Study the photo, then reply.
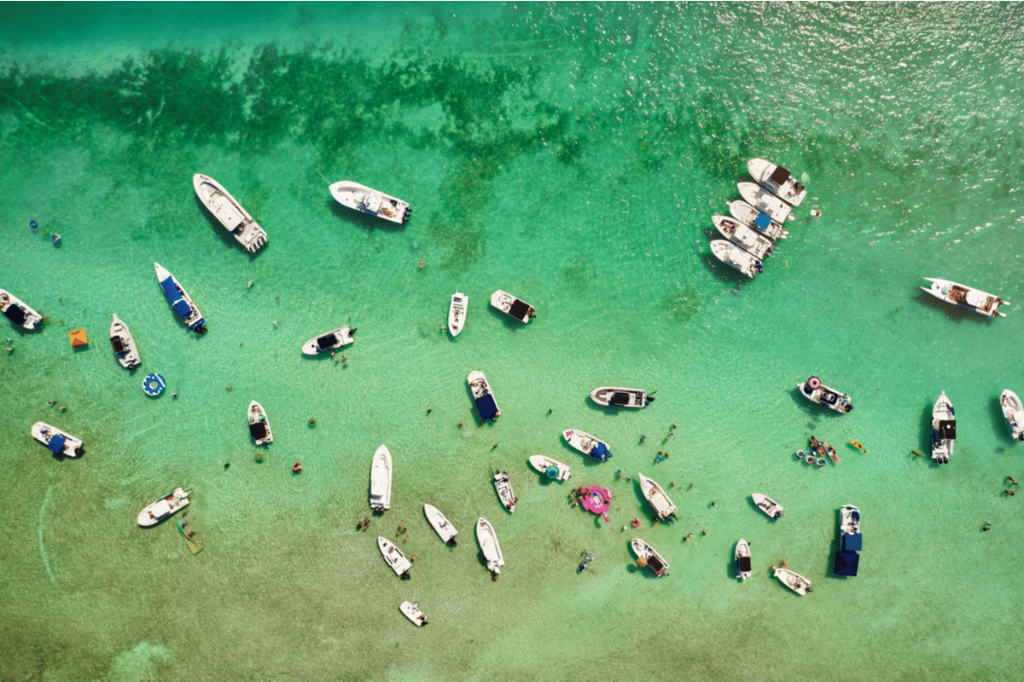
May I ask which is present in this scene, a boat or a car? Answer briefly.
boat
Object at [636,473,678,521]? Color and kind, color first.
white boat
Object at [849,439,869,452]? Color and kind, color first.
orange boat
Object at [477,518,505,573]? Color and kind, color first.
white boat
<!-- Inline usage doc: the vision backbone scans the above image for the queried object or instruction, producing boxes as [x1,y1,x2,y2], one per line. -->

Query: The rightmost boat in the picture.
[996,389,1024,441]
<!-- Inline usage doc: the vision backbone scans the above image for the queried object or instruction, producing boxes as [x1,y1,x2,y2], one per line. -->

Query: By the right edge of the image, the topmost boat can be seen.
[916,277,1010,318]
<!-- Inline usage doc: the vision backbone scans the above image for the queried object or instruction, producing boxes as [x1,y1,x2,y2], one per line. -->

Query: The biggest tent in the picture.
[827,547,859,576]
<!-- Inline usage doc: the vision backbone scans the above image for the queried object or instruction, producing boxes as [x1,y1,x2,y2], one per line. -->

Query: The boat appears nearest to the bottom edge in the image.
[400,601,428,626]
